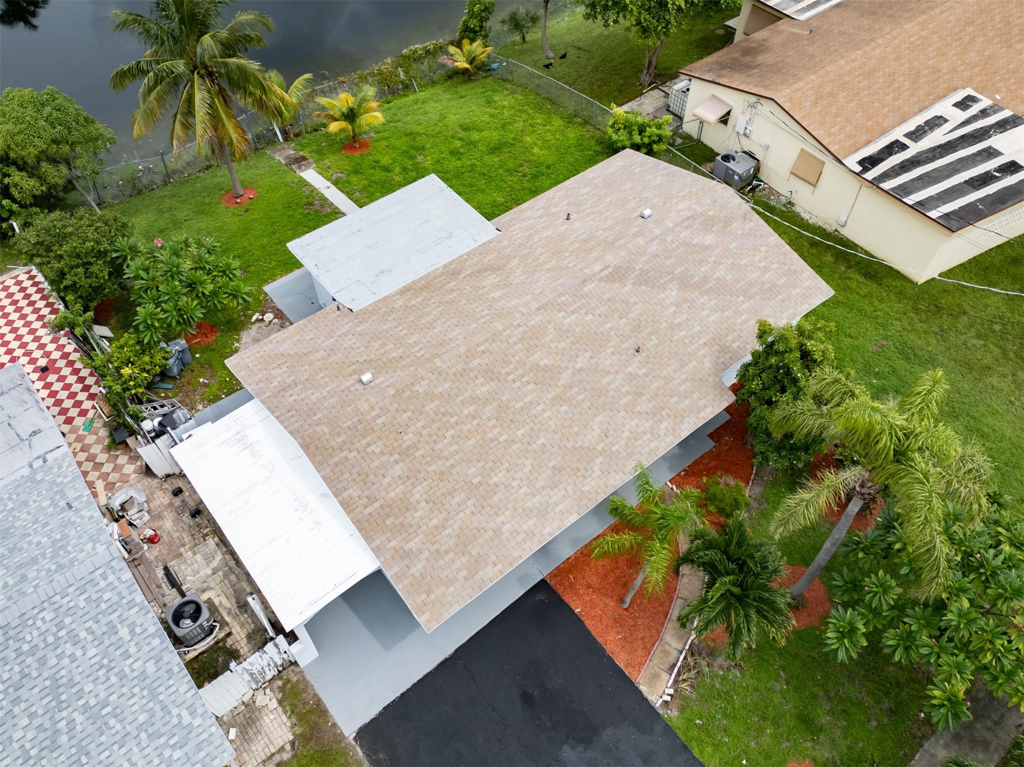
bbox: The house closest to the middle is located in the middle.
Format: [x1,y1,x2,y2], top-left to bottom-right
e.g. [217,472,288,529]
[168,148,839,665]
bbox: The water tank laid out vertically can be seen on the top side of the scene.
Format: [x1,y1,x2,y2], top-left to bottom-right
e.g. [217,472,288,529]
[667,81,690,119]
